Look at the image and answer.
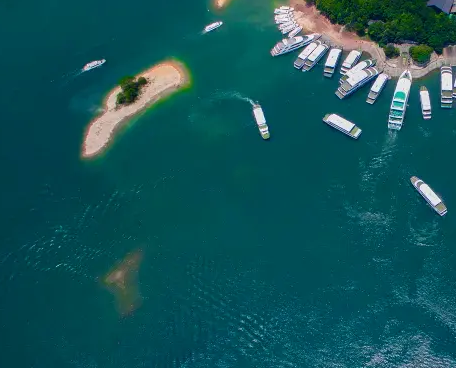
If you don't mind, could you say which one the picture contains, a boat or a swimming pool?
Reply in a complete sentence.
There is a boat in the scene.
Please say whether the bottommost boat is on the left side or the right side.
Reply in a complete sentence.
The bottommost boat appears in the right half of the scene.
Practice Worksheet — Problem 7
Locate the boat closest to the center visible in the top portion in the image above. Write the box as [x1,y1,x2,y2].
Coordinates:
[252,102,269,140]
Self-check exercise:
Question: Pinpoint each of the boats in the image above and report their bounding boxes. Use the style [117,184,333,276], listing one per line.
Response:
[336,68,384,100]
[339,49,361,73]
[294,38,321,68]
[252,102,269,140]
[324,115,362,138]
[282,24,298,33]
[274,8,289,14]
[420,85,432,119]
[411,176,448,216]
[276,17,294,23]
[340,59,378,84]
[274,12,292,19]
[279,21,296,29]
[366,73,392,104]
[304,43,331,71]
[440,66,453,107]
[82,61,106,71]
[288,27,302,37]
[270,33,321,57]
[204,21,223,32]
[323,46,344,77]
